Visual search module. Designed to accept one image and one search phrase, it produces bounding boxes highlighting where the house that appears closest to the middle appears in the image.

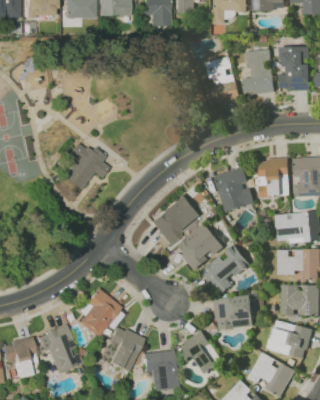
[156,199,201,242]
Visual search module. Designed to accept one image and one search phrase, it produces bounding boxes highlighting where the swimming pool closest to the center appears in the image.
[230,206,258,235]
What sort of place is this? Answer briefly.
residential area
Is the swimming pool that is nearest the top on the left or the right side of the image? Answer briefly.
right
